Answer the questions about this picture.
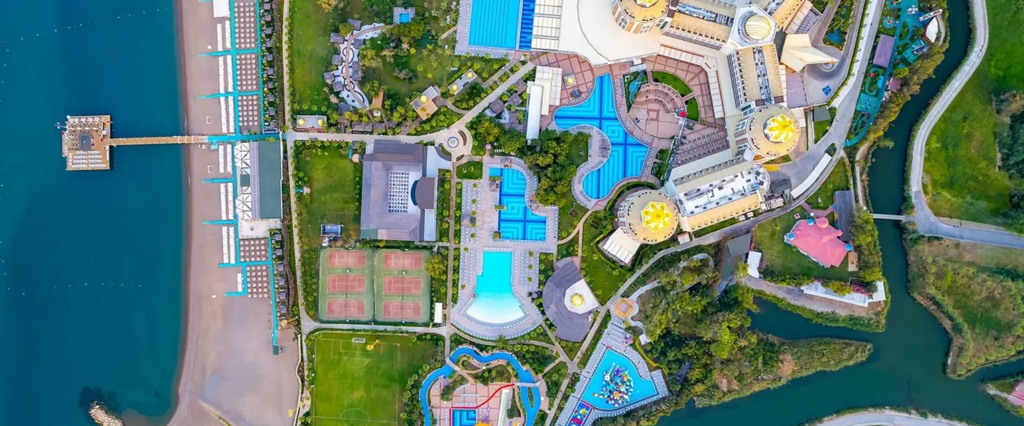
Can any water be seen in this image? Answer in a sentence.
Yes, there is water in the image.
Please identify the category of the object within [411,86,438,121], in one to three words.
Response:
building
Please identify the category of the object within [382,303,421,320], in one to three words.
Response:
tennis court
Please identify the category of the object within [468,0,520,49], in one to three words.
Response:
swimming pool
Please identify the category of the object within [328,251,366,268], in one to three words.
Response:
tennis court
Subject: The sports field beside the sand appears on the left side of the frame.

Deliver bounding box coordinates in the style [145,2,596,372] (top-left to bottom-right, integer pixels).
[310,334,445,426]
